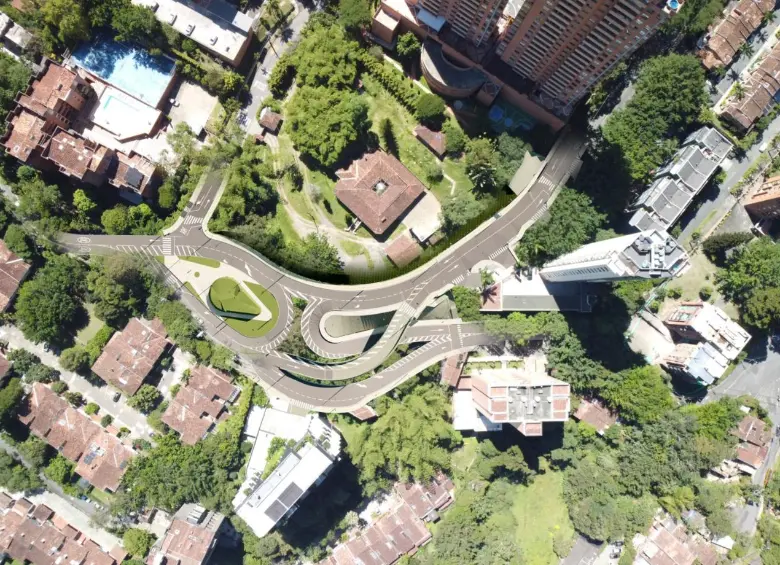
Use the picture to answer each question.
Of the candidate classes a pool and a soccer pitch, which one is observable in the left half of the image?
pool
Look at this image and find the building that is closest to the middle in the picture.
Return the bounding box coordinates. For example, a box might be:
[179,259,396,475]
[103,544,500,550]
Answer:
[385,235,422,267]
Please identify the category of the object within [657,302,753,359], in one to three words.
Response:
building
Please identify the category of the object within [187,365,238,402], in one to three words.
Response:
house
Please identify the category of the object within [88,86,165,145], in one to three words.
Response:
swimming pool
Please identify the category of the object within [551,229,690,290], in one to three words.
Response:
building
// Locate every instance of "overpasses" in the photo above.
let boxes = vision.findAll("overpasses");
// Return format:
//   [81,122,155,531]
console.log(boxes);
[277,303,417,380]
